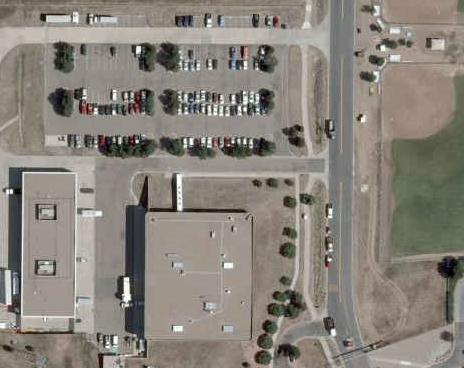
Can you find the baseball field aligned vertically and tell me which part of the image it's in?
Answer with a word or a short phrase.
right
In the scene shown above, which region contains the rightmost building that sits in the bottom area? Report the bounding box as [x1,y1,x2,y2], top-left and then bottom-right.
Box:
[145,211,254,341]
